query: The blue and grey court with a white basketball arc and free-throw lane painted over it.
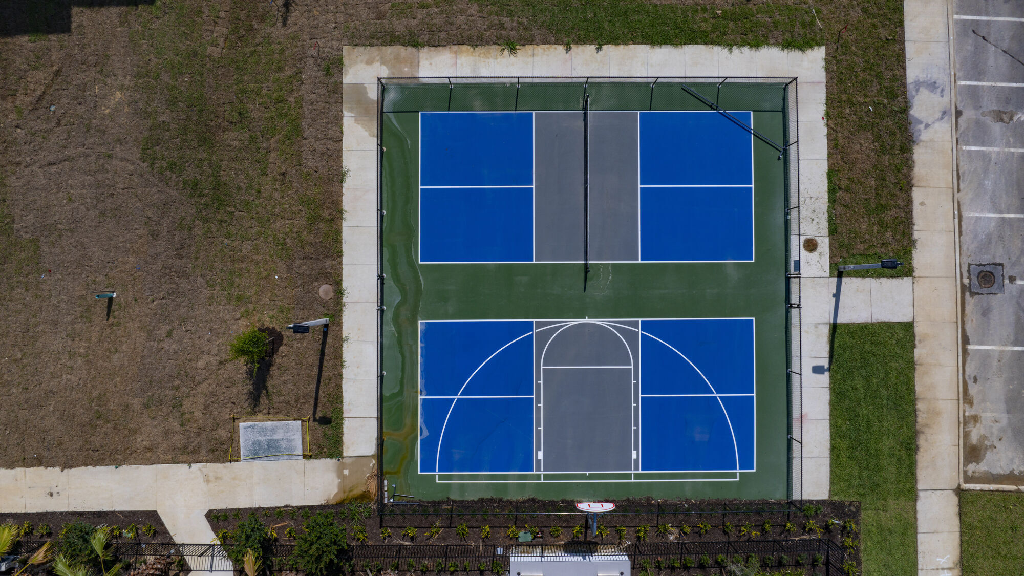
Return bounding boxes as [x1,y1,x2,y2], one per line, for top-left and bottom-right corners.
[419,317,756,483]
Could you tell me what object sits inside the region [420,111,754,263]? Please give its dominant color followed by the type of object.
blue sports court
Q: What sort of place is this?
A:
sports ground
